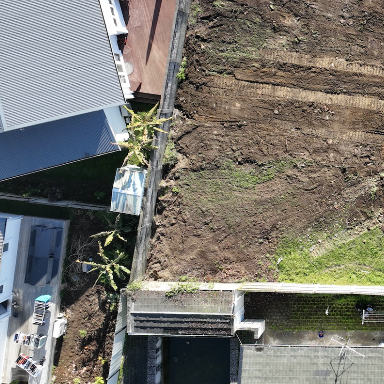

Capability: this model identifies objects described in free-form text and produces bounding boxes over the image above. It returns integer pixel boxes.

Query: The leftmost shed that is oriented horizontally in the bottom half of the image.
[126,284,244,338]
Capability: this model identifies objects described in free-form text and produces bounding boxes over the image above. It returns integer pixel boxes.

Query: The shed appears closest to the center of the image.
[110,167,145,214]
